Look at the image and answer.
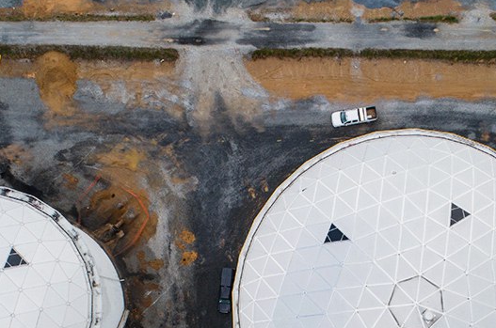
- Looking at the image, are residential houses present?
No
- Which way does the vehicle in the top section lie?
from left to right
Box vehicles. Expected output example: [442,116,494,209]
[330,106,378,127]
[215,266,235,315]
